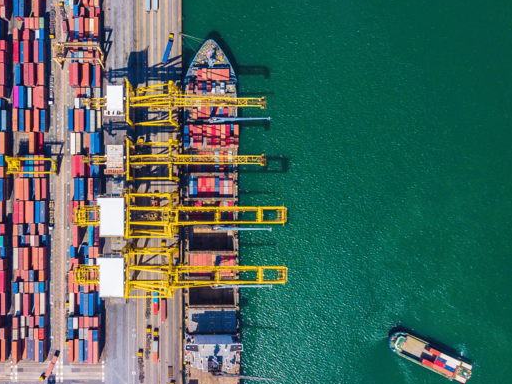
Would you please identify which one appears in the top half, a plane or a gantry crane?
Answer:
gantry crane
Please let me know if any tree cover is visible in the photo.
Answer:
No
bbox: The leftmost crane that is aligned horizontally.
[4,155,59,177]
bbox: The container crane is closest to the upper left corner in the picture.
[52,43,105,70]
